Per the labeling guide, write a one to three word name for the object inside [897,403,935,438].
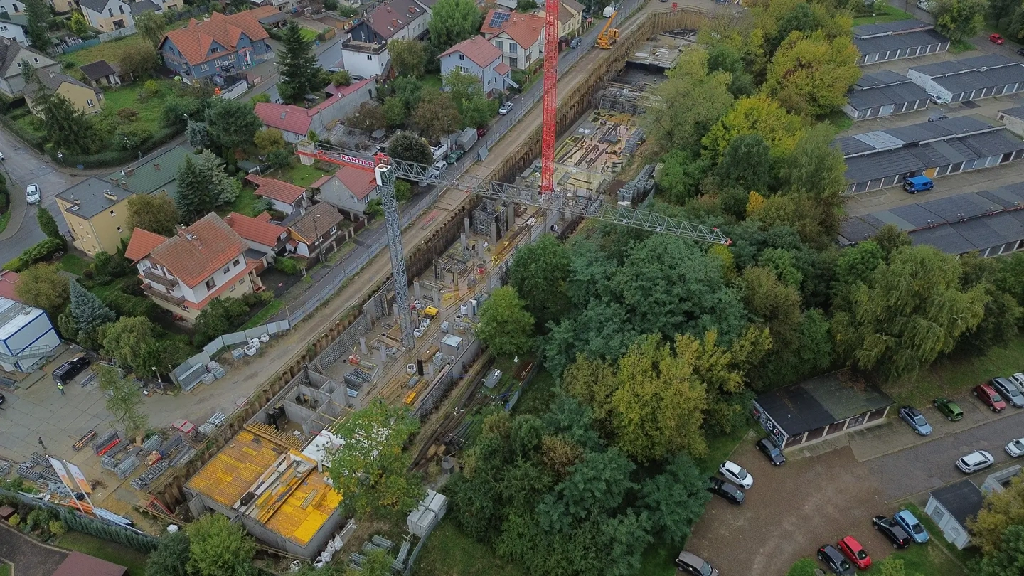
car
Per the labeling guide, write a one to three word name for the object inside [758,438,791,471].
car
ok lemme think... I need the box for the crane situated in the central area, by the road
[294,147,731,357]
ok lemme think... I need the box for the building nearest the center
[436,333,460,362]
